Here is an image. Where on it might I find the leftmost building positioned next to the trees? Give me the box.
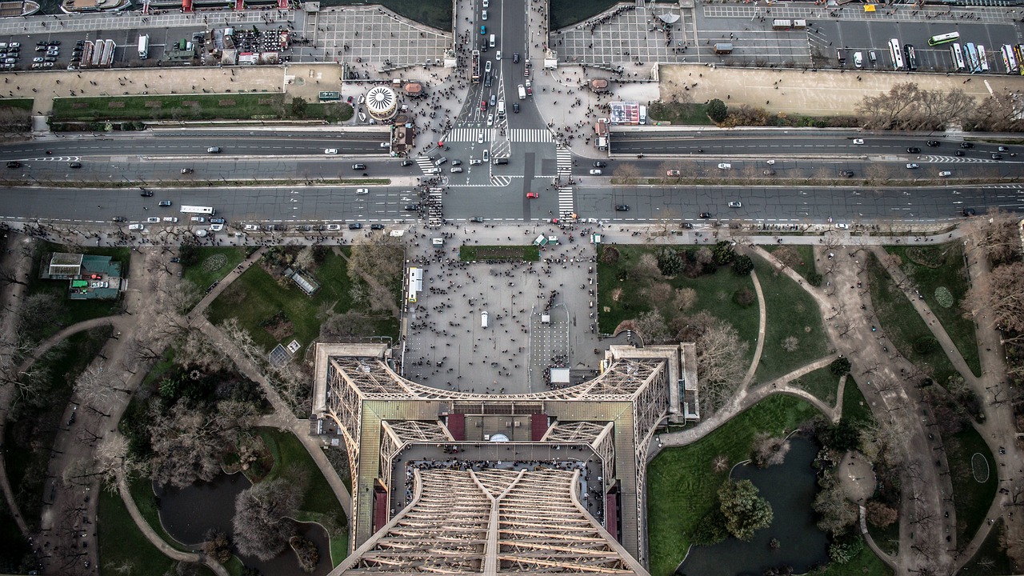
[39,252,127,301]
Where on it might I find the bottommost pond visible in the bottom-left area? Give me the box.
[155,473,332,576]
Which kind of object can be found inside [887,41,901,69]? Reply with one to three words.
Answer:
vehicle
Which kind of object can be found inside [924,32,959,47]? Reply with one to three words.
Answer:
vehicle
